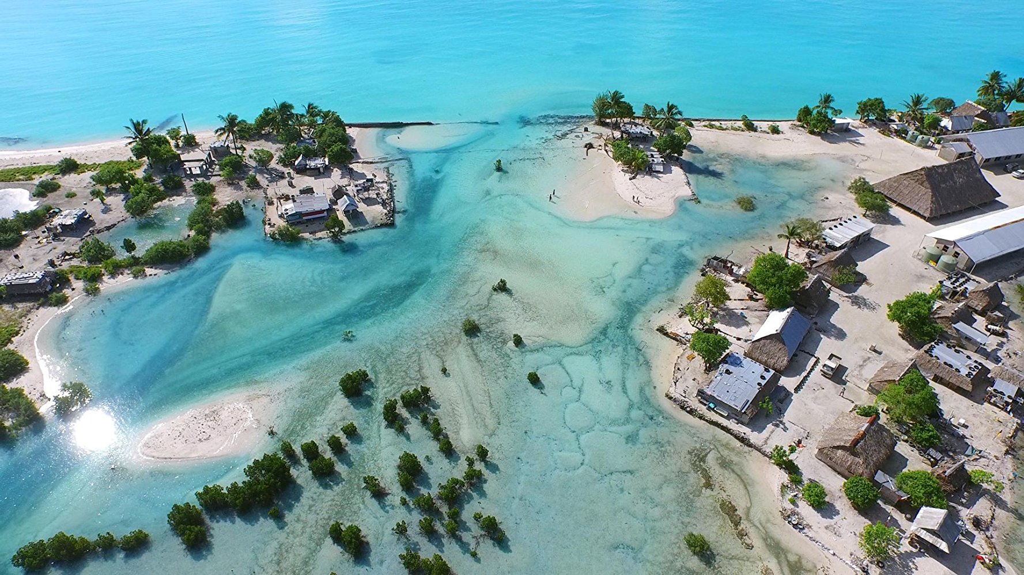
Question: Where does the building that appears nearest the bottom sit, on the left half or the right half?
right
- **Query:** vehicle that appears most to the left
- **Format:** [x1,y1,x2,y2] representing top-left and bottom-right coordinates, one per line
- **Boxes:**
[821,349,844,376]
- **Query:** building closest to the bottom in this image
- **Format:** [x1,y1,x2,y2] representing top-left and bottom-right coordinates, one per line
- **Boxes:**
[910,506,964,558]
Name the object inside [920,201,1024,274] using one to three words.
building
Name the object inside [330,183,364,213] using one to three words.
shed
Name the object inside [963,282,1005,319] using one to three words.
building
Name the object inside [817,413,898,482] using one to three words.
house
